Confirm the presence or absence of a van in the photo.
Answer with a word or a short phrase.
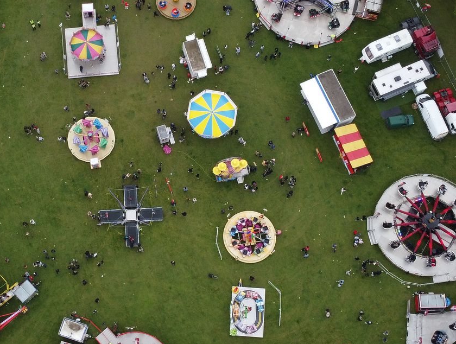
Yes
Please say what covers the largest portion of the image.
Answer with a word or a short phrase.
grass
